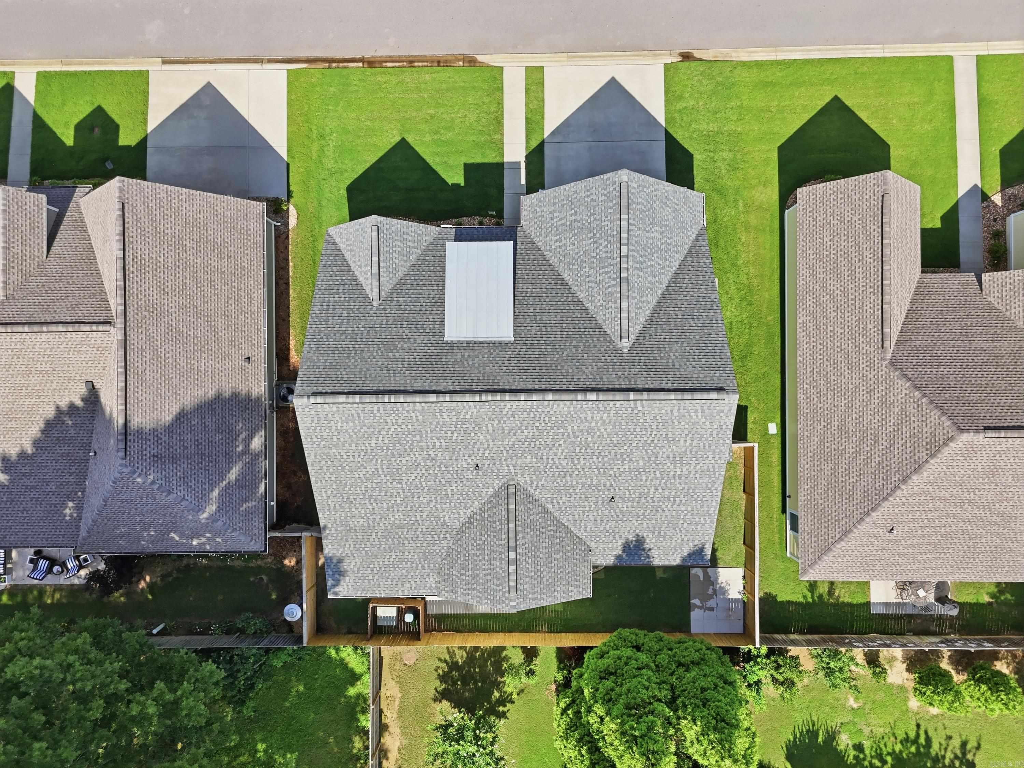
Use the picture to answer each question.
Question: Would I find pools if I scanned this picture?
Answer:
No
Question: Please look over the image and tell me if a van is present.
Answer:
No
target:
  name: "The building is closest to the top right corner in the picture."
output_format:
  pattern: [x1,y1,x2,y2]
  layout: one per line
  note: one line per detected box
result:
[785,172,1024,581]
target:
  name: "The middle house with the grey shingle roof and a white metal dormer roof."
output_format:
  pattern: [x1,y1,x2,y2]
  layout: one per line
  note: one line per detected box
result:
[294,168,739,612]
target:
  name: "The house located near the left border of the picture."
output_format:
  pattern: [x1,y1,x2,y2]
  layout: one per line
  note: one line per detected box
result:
[0,175,286,555]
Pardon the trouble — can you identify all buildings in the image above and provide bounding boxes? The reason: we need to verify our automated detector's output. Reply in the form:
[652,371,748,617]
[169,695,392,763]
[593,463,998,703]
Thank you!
[294,168,739,612]
[0,175,286,555]
[785,172,1024,581]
